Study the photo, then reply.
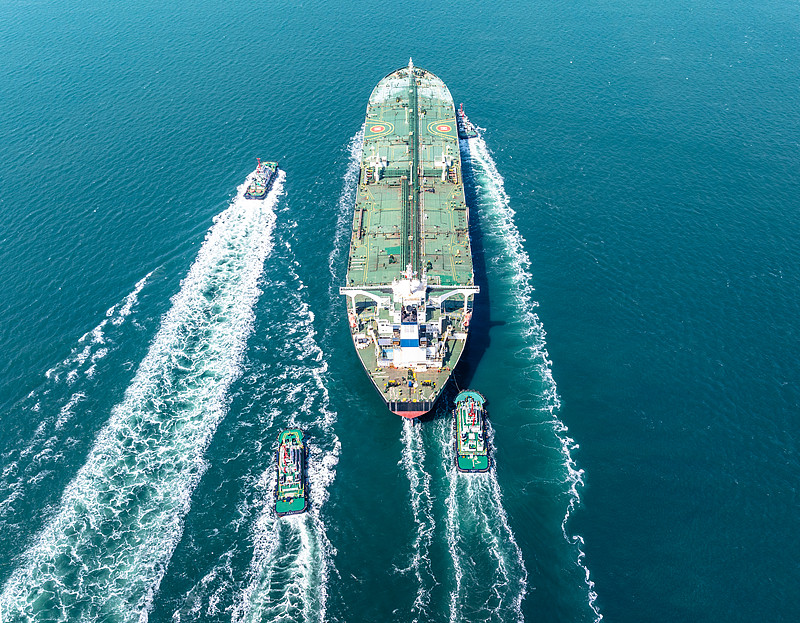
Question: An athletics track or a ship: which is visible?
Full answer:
Of the two, only a ship appears.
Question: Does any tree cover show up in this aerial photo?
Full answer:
No, there is no tree cover in the image.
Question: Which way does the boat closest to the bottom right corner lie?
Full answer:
I'd say the boat closest to the bottom right corner is aligned vertically in the picture.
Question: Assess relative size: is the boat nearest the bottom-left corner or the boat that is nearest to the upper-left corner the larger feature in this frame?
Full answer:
The boat nearest the bottom-left corner is bigger than the boat that is nearest to the upper-left corner.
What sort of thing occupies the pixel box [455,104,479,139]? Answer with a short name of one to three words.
boat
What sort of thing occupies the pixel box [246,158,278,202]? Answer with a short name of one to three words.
boat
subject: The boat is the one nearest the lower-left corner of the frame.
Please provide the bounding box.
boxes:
[273,425,309,521]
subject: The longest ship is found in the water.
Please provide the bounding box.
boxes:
[339,59,483,421]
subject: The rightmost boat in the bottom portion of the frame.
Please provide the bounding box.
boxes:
[453,388,490,474]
